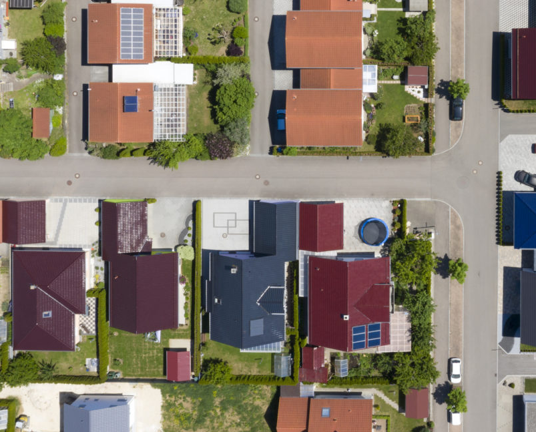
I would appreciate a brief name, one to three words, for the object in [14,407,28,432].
work vehicle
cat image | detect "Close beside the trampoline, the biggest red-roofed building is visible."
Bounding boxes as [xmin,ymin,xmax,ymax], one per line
[309,253,391,353]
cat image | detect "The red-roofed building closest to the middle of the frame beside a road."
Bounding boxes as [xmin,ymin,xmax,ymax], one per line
[299,201,343,253]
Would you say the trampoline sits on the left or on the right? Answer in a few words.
right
